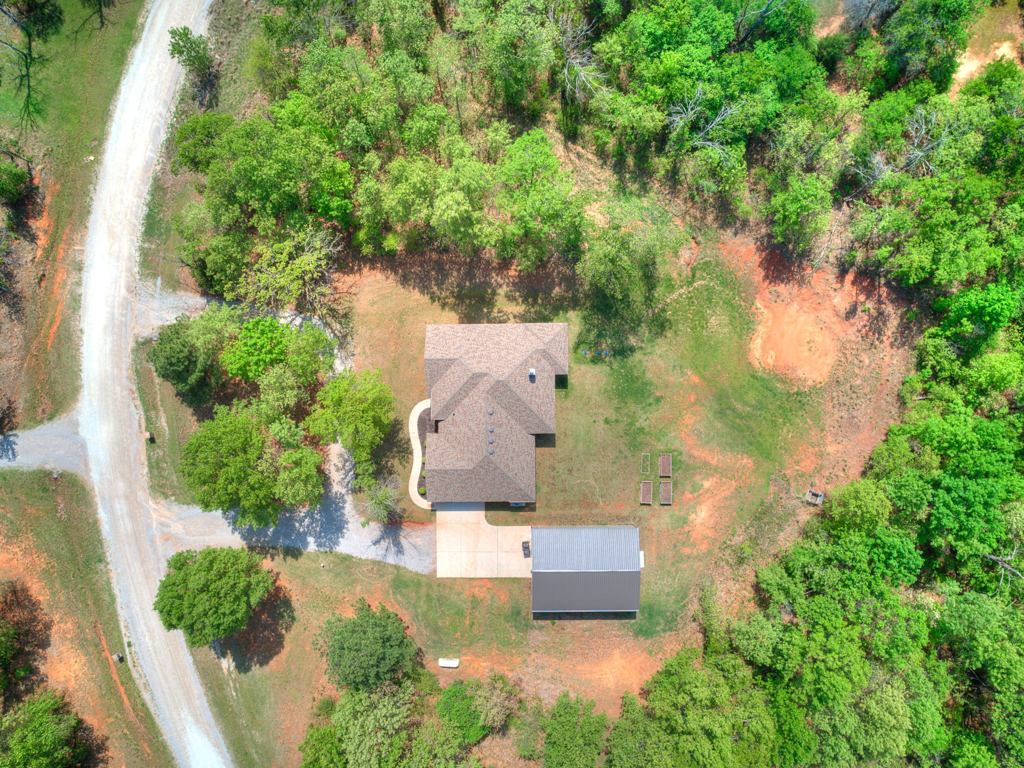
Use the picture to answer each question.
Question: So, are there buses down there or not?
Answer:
No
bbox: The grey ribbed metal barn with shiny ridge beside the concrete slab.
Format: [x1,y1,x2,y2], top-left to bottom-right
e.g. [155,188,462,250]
[530,522,645,612]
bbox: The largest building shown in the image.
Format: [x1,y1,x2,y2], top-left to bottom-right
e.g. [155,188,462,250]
[423,324,569,503]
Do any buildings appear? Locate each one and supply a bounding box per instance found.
[530,522,645,612]
[423,324,569,503]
